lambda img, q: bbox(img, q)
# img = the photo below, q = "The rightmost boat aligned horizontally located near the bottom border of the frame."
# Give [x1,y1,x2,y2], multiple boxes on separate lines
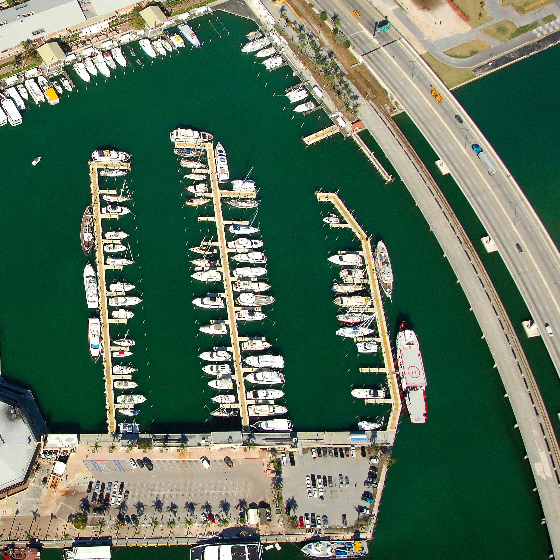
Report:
[302,541,370,558]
